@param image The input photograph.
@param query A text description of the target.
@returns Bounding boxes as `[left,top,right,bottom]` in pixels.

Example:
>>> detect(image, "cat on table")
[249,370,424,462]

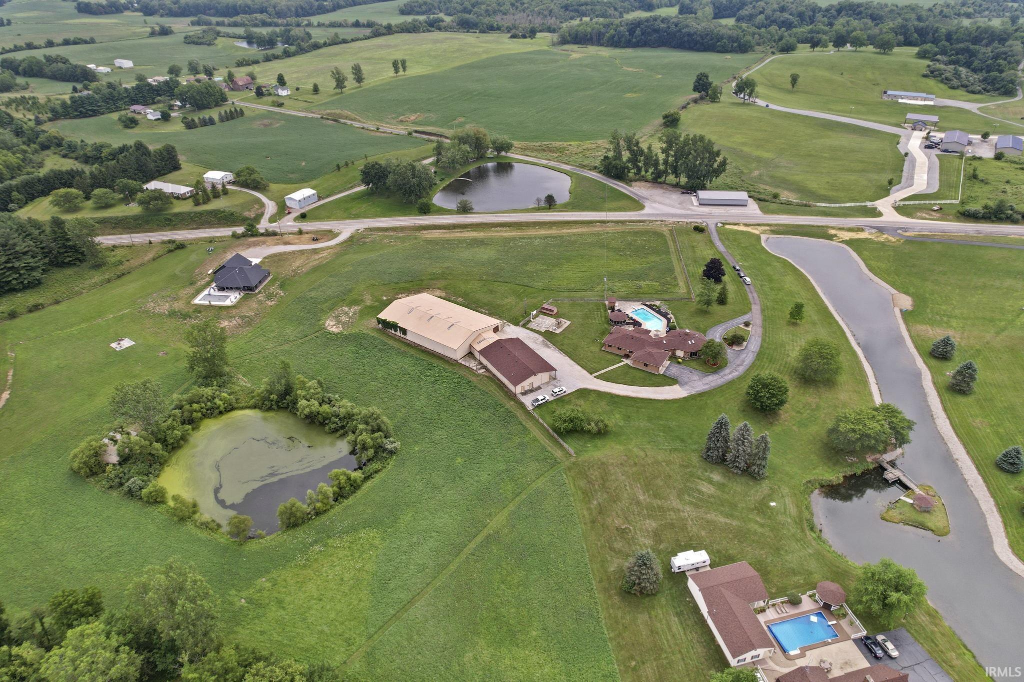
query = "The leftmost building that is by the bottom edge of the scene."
[688,561,775,665]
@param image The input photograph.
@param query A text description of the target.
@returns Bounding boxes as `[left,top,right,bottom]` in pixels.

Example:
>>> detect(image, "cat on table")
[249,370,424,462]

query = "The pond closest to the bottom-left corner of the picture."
[213,411,348,537]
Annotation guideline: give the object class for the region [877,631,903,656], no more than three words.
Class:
car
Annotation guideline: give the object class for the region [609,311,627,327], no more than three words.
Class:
gazebo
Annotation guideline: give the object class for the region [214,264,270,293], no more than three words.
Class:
house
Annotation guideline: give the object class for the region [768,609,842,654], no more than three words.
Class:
swimming pool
